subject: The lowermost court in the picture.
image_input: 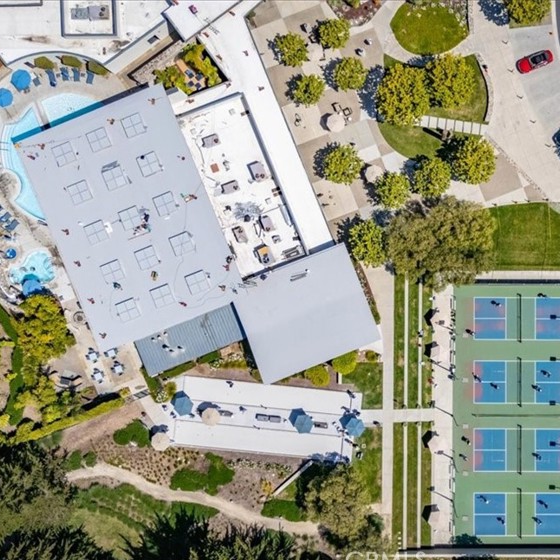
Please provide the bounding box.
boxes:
[454,482,560,548]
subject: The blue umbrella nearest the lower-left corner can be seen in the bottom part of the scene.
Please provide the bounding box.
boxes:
[174,396,193,417]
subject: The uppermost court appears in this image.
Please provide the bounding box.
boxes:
[454,286,560,350]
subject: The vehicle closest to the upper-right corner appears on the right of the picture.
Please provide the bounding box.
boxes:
[519,50,556,72]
